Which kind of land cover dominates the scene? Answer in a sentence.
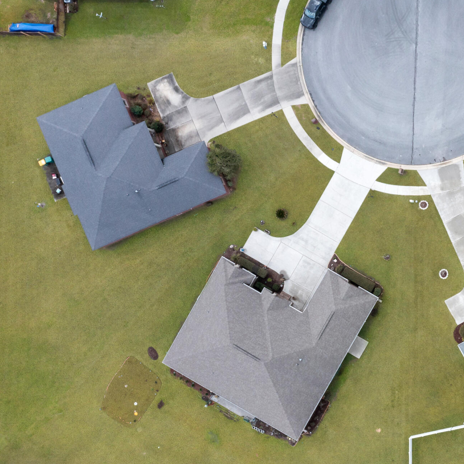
Most of the picture is covered by grass.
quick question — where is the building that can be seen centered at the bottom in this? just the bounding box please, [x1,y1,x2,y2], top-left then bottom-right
[161,255,379,441]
